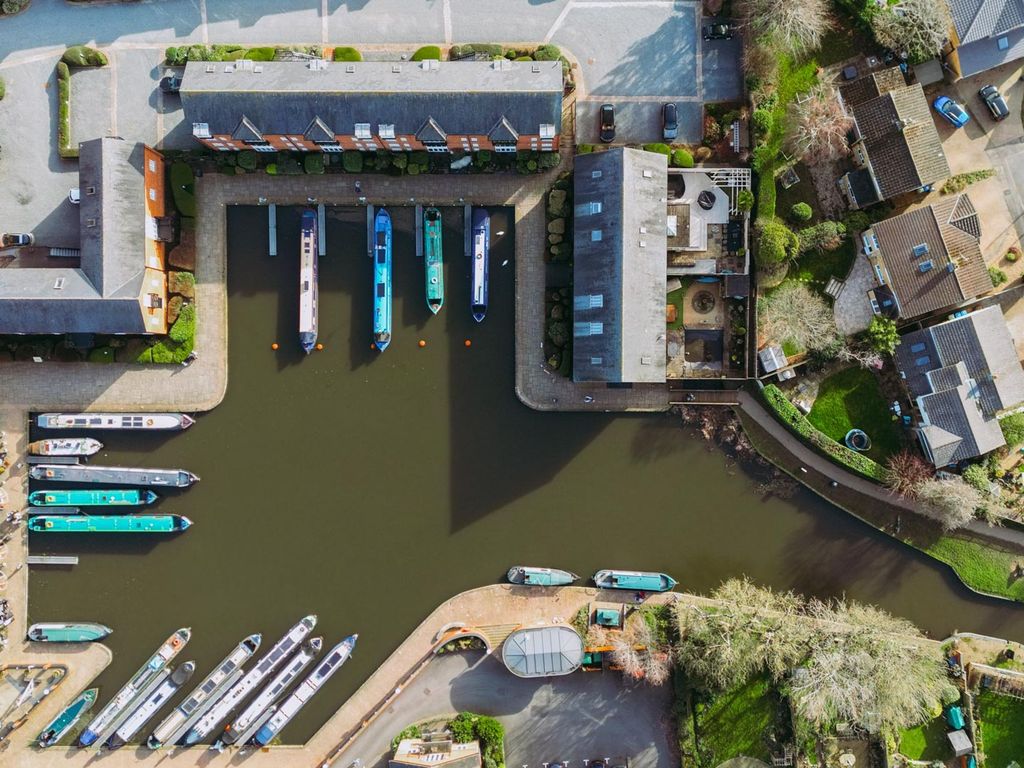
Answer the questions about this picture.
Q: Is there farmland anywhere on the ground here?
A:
No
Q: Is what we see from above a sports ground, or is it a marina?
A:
marina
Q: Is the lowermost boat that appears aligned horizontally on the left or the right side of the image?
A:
left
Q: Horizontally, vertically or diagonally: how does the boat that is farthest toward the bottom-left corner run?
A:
diagonally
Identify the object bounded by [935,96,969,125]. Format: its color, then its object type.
blue car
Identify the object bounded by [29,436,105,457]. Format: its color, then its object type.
white boat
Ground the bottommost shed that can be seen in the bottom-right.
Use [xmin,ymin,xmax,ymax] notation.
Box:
[941,727,971,754]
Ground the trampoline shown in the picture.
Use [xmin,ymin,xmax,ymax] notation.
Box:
[844,428,874,451]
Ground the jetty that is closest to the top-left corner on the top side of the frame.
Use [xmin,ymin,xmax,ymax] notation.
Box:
[267,206,279,255]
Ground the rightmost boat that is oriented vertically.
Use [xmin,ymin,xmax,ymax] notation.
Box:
[470,208,489,324]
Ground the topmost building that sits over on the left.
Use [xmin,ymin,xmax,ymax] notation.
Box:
[181,60,563,155]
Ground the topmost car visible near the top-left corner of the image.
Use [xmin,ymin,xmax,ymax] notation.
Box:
[155,69,187,88]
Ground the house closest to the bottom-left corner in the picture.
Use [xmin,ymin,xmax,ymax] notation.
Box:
[380,719,481,768]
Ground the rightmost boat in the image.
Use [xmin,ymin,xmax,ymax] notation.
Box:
[594,570,679,590]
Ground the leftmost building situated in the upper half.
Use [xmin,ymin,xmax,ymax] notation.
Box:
[0,134,178,348]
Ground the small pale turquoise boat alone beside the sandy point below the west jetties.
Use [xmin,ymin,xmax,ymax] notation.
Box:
[26,621,114,642]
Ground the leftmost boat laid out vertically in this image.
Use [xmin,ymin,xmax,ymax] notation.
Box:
[300,207,319,355]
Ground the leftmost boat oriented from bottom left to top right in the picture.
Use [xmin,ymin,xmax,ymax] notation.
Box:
[36,688,100,750]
